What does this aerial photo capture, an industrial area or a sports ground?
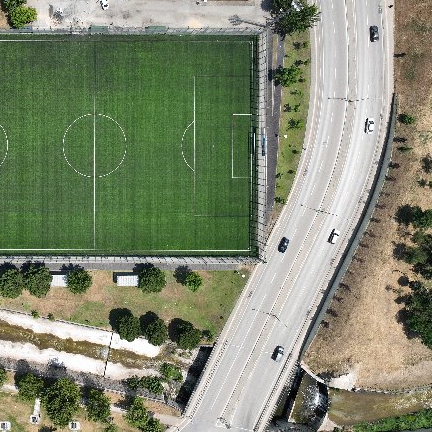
sports ground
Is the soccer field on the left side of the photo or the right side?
left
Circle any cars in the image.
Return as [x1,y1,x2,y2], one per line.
[273,346,284,361]
[329,228,339,244]
[365,118,374,133]
[370,26,379,42]
[279,237,290,253]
